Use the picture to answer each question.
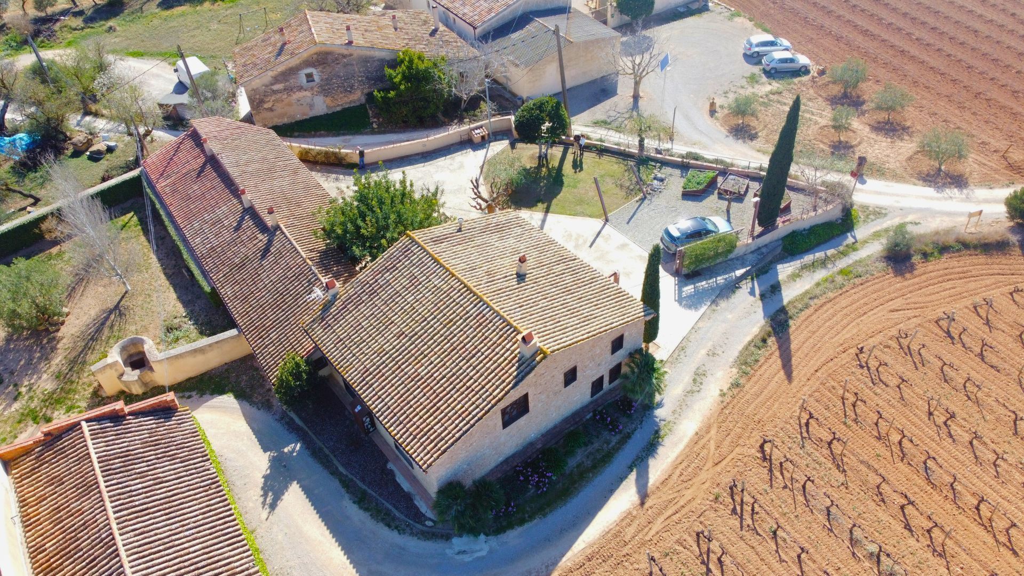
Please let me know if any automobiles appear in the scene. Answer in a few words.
Yes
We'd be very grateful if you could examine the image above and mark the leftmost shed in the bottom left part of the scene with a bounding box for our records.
[0,385,260,576]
